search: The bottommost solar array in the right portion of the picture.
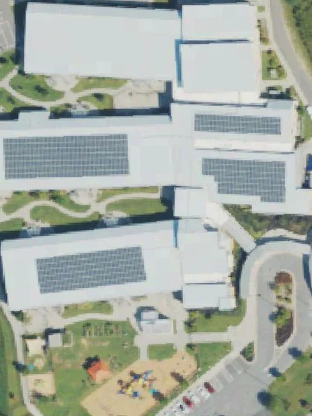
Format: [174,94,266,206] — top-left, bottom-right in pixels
[202,157,284,202]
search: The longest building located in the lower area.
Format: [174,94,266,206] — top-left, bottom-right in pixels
[1,218,236,310]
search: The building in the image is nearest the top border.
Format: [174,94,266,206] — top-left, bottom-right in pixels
[24,2,264,102]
